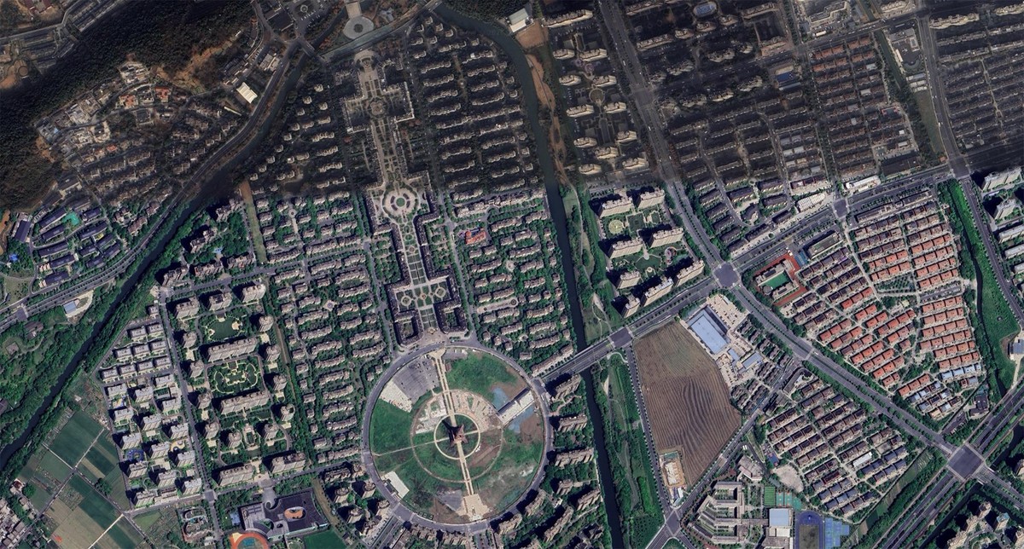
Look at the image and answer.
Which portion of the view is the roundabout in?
bottom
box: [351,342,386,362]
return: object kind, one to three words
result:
building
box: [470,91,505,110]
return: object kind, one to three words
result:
building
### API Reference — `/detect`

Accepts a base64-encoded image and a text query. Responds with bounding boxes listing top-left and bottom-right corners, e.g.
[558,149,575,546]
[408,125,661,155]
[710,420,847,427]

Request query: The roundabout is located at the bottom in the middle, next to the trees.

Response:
[362,342,552,531]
